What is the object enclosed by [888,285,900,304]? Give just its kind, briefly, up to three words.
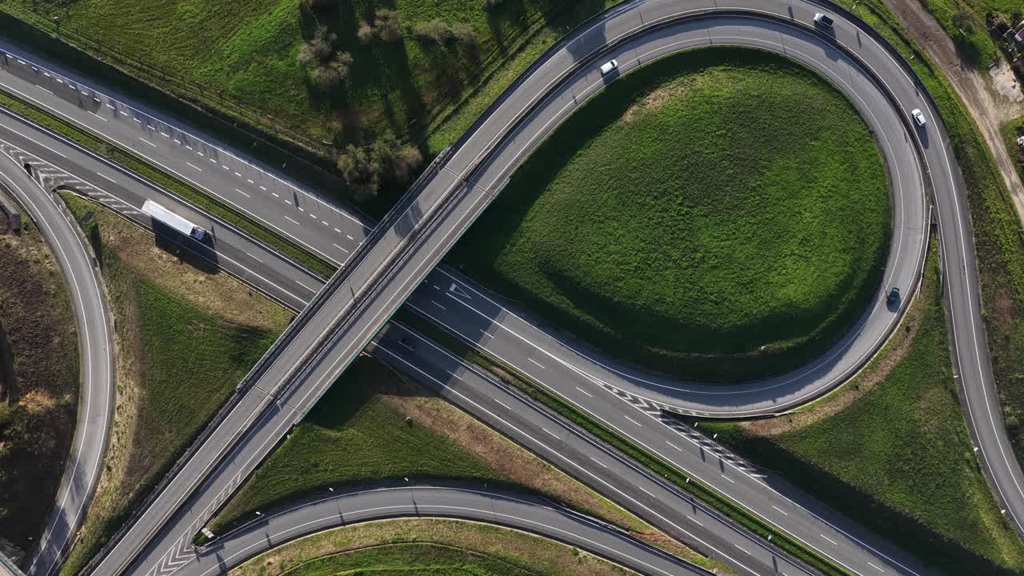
vehicle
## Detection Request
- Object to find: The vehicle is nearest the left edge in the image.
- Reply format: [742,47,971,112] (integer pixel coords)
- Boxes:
[141,203,209,245]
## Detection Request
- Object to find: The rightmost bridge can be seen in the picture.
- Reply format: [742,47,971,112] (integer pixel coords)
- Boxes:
[250,164,494,419]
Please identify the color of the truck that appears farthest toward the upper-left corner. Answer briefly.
white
